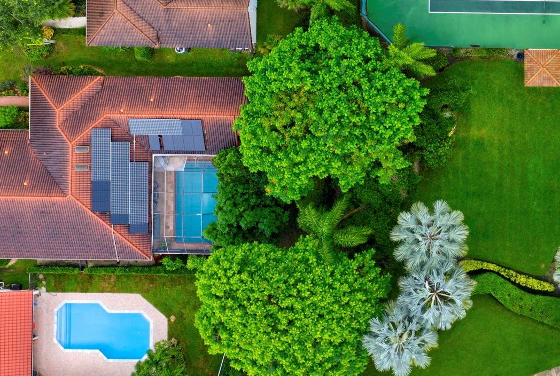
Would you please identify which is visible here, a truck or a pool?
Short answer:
pool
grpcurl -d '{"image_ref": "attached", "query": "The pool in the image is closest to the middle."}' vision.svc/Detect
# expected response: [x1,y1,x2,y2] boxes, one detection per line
[171,158,227,247]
